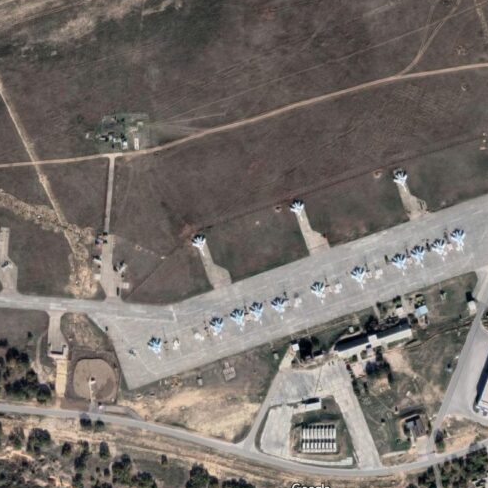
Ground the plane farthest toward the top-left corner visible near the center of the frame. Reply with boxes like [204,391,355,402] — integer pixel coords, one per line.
[190,232,204,254]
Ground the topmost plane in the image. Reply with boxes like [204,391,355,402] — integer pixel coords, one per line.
[393,167,407,189]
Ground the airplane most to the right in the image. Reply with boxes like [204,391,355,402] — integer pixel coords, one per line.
[451,229,465,250]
